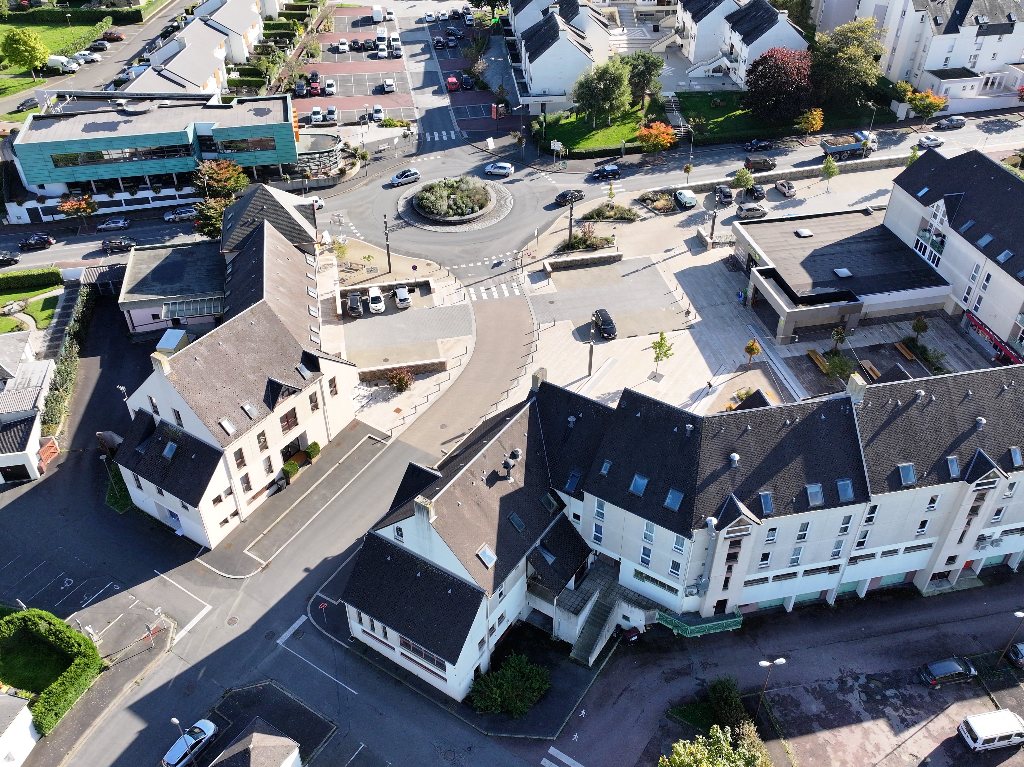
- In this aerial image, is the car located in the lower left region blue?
Yes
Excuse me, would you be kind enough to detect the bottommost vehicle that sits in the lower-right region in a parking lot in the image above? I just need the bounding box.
[962,704,1024,746]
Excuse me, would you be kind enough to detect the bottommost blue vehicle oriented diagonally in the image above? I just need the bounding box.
[156,714,221,767]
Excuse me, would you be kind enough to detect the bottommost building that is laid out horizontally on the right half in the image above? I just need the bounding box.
[341,362,1024,700]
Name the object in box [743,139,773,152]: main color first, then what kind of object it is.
black vehicle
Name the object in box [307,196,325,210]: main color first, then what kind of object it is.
white car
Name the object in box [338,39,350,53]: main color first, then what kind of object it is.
white vehicle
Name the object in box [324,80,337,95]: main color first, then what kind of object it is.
white vehicle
